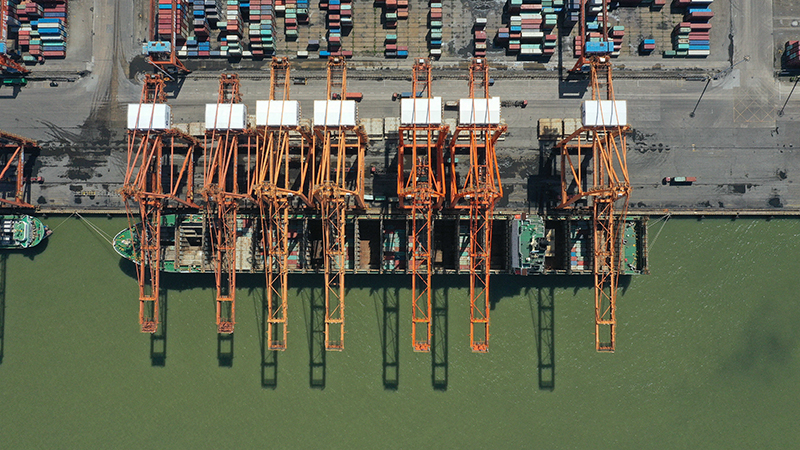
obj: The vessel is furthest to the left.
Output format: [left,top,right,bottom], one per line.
[0,213,52,247]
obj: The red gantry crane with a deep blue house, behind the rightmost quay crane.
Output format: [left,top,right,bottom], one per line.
[563,0,613,74]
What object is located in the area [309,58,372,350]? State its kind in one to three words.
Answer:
container crane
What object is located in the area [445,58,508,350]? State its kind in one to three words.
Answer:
container crane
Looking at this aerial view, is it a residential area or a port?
port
